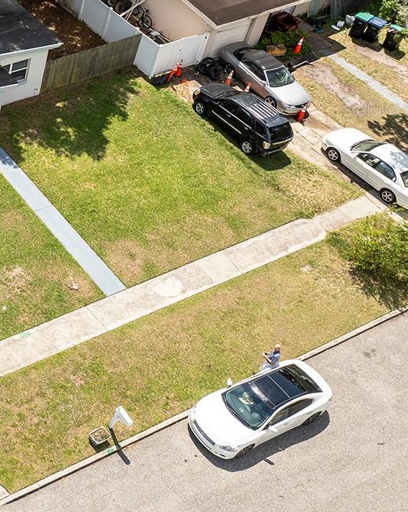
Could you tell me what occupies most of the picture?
grass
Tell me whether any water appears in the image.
No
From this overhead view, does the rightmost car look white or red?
white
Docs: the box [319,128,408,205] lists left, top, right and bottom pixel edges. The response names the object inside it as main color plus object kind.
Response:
white car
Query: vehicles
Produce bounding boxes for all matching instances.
[224,45,329,119]
[190,80,304,160]
[319,128,408,205]
[187,361,343,466]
